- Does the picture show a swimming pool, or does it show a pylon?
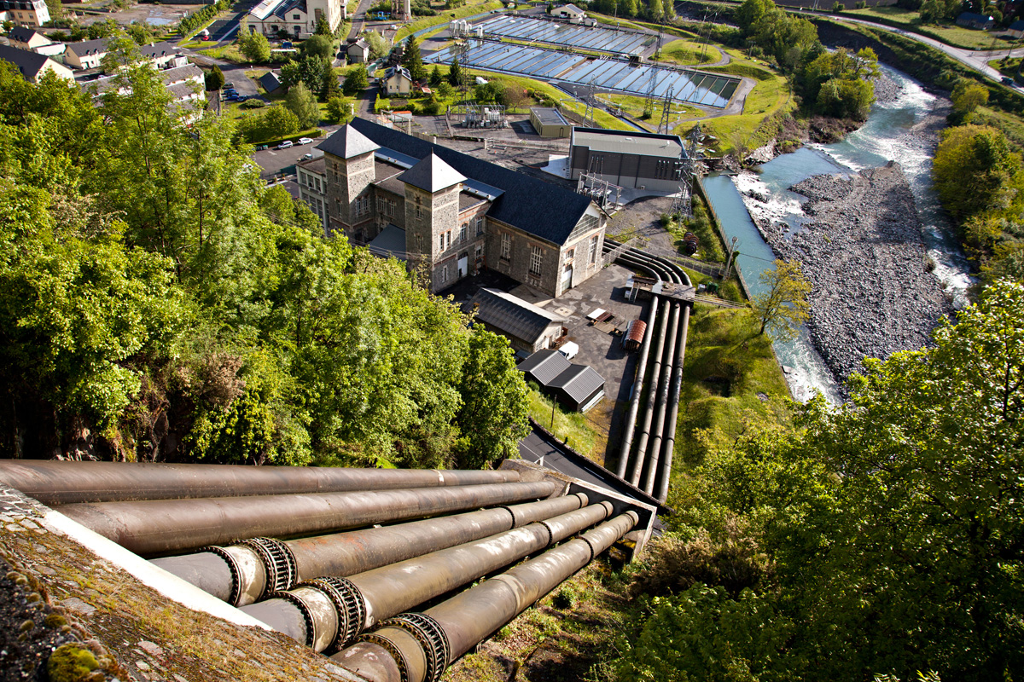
pylon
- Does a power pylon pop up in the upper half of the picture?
Yes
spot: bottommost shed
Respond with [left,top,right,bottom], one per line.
[515,352,607,423]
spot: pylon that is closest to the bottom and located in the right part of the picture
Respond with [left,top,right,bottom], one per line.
[674,125,715,229]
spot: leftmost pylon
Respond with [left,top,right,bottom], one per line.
[455,32,474,103]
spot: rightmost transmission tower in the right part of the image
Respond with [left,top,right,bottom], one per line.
[976,36,1005,71]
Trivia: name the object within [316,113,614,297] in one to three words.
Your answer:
building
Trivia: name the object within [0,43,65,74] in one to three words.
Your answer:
house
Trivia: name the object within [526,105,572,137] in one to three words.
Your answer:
building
